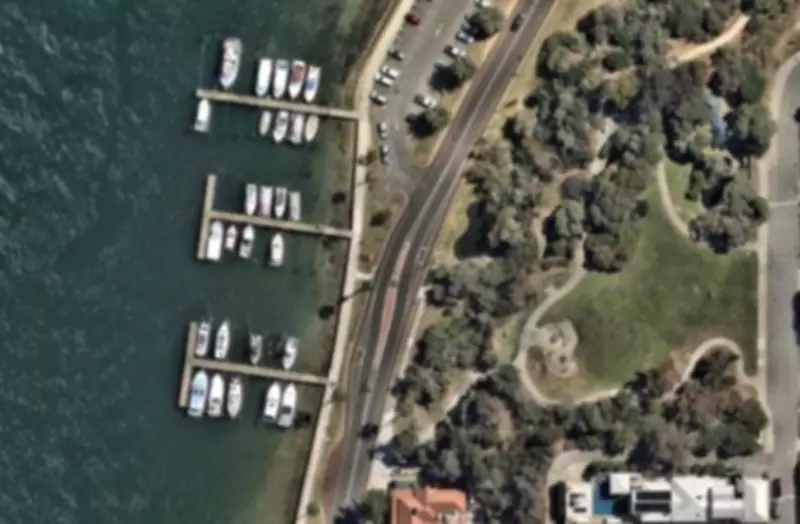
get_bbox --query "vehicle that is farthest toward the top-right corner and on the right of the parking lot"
[510,13,523,30]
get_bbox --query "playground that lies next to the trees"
[518,319,578,380]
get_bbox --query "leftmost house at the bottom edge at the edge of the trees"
[392,469,468,524]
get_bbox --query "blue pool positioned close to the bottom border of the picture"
[593,485,616,515]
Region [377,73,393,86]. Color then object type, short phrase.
white vehicle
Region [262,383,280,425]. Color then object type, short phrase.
white boat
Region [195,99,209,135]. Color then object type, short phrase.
white boat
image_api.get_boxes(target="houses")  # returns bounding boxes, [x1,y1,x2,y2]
[566,474,770,524]
[392,469,468,524]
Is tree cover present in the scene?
Yes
